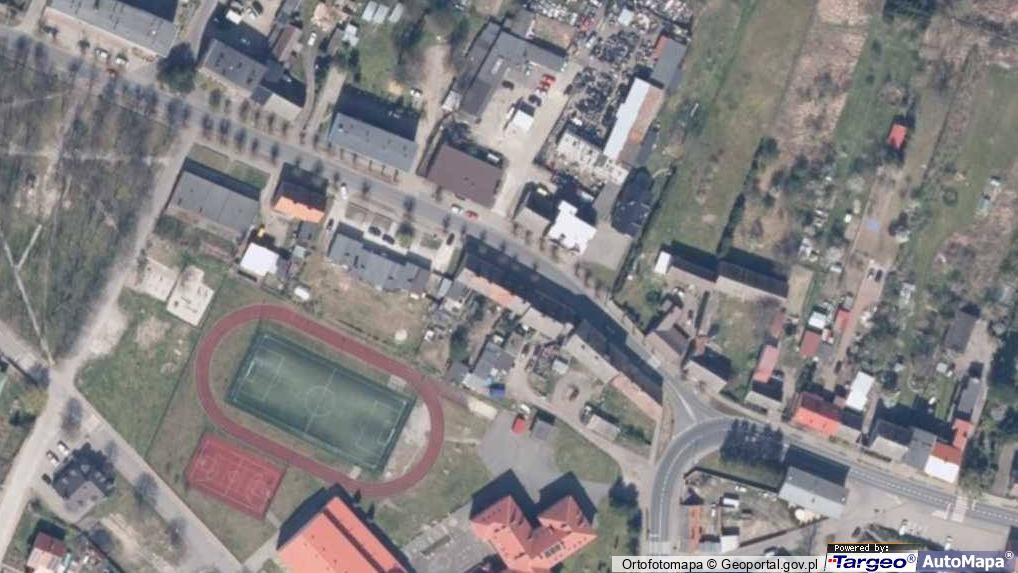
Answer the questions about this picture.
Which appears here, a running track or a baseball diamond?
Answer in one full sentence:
I can see a running track in this picture.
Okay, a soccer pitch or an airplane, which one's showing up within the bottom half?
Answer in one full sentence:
Looking within the bottom half, you will find a soccer pitch.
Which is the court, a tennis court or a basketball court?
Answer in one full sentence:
It looks like the court is a basketball court.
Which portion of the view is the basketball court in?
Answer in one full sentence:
The basketball court appears toward the bottom left of the photo.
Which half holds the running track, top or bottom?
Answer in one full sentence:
Seen from above, the running track lies in the bottom half of the view.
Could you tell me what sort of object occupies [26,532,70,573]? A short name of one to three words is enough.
house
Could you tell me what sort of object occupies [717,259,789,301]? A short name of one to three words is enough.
barn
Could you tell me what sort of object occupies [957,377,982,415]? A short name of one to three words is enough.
shed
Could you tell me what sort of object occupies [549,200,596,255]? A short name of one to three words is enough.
building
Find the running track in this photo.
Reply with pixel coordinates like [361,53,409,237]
[196,303,444,495]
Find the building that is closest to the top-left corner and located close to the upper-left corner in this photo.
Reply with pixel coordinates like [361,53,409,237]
[47,0,179,57]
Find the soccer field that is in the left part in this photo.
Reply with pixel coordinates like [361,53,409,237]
[228,331,412,473]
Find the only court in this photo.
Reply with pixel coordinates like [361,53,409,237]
[185,434,284,518]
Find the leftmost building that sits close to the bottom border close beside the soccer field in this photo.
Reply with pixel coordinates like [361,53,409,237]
[278,496,411,573]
